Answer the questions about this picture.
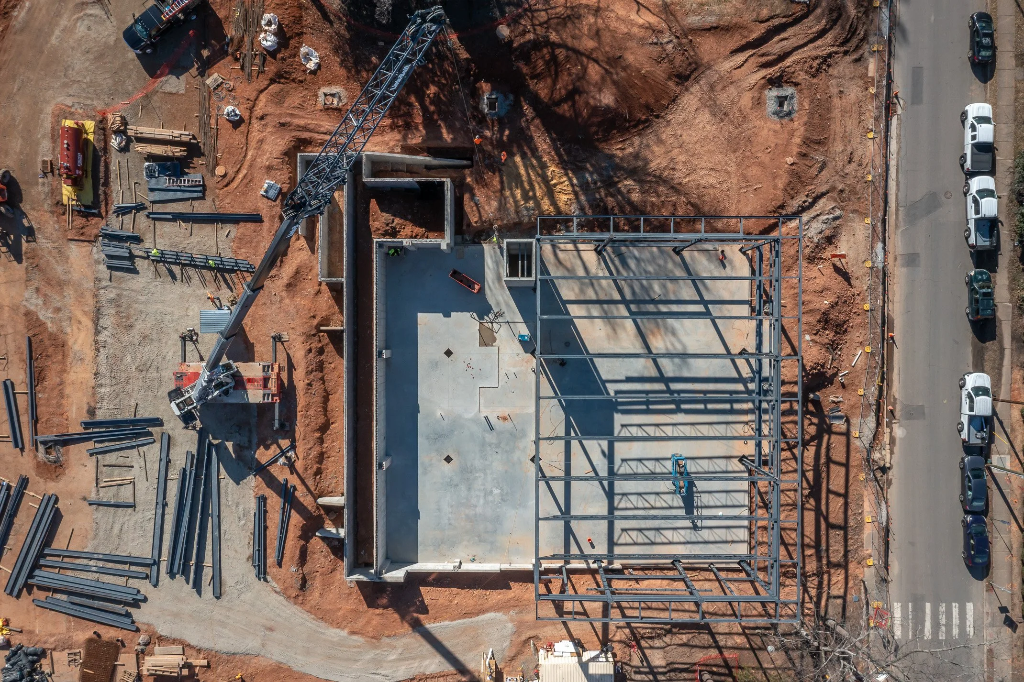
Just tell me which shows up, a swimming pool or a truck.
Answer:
truck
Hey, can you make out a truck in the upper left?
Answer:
Yes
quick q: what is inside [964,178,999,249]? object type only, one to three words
truck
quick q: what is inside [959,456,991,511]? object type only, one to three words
car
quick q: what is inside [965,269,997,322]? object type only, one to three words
car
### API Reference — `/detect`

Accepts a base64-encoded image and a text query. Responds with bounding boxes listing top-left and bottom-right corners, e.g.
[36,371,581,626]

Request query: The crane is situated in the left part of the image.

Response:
[155,9,498,431]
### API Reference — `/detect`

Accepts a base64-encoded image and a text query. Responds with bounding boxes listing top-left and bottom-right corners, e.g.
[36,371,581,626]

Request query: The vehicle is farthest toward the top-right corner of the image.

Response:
[967,11,998,64]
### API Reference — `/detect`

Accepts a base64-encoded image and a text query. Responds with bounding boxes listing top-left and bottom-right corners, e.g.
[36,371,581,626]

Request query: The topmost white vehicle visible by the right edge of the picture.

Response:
[961,105,995,173]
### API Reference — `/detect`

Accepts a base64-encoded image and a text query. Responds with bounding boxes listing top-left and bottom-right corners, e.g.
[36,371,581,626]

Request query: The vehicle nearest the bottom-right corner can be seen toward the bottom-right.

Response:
[959,514,990,568]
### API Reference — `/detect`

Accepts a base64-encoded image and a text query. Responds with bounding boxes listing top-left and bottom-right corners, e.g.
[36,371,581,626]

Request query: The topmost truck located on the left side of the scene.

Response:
[124,0,216,55]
